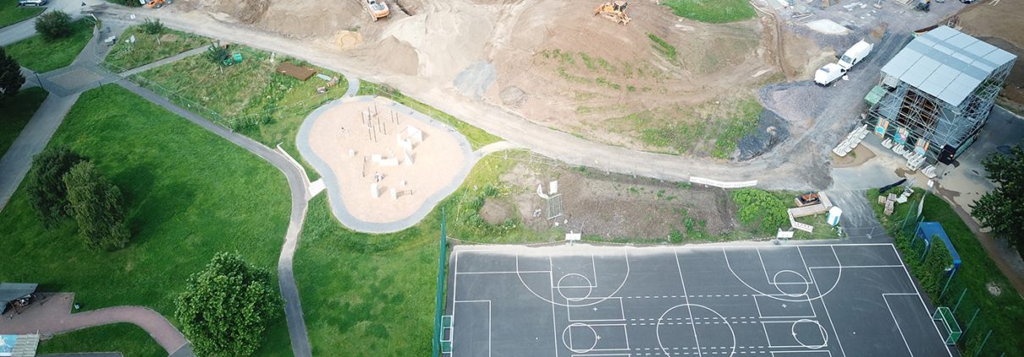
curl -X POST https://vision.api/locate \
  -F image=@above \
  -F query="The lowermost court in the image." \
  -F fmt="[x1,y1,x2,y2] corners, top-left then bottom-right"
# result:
[434,239,964,357]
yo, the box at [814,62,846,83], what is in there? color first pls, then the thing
white vehicle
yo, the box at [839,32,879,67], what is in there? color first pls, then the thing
white van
